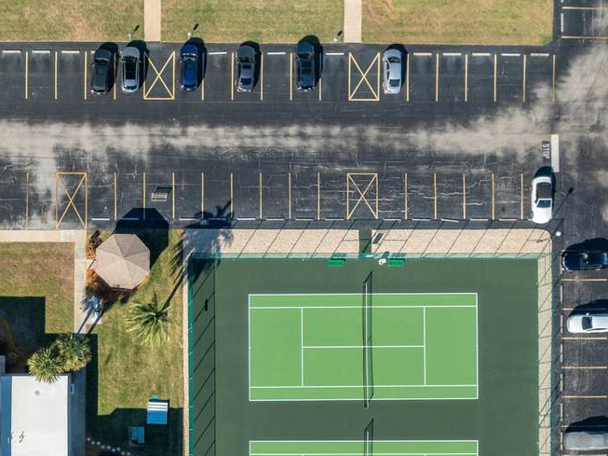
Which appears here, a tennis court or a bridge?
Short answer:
tennis court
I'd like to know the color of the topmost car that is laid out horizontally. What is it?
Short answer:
black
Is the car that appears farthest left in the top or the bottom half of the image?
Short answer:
top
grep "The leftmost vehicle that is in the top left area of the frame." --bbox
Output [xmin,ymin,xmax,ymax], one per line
[90,49,112,96]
